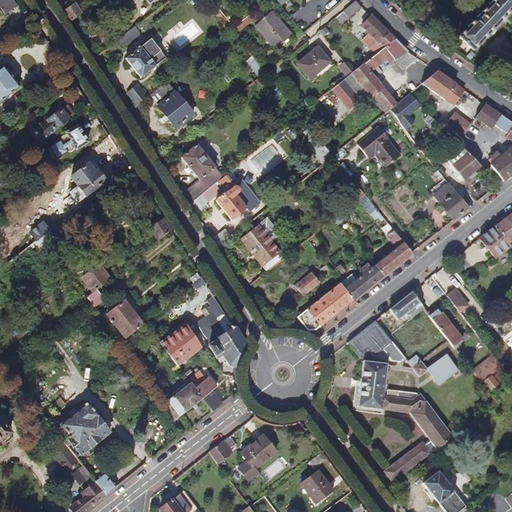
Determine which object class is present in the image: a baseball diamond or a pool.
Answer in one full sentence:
The image shows a pool.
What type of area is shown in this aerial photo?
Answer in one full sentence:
This looks like a residential area.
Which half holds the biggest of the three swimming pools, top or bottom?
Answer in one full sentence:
You can find the biggest of the three swimming pools in the top half.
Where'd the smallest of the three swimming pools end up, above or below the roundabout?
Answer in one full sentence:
You can see the smallest of the three swimming pools below the roundabout in the frame.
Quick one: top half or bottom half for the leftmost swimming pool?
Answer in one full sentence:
The leftmost swimming pool is in the top half of the image.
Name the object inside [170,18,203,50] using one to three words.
swimming pool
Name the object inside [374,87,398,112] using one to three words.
shed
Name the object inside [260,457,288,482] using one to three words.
swimming pool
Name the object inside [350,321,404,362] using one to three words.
building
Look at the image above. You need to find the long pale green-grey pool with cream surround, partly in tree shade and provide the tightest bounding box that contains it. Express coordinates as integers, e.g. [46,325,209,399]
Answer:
[246,139,286,178]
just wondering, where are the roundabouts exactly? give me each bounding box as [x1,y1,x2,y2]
[247,334,321,411]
